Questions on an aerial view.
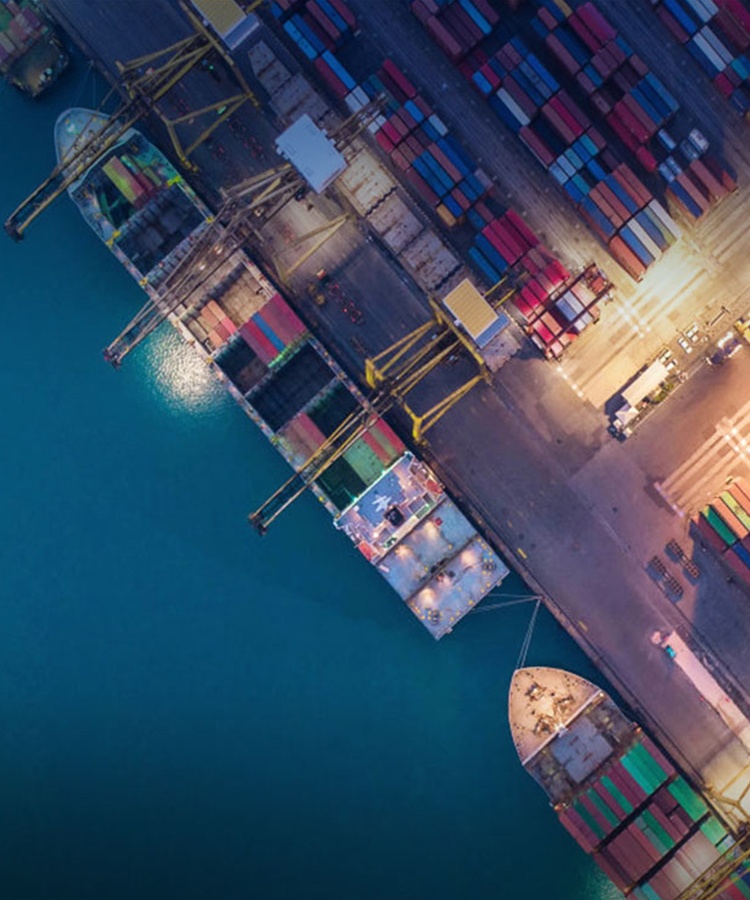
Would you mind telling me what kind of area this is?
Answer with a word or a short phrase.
port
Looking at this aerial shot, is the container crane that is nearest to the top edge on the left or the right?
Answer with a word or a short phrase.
left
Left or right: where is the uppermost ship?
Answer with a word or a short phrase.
left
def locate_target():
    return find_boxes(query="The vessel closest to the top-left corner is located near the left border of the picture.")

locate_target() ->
[0,22,77,102]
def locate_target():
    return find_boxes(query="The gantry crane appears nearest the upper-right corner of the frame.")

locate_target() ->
[515,263,615,372]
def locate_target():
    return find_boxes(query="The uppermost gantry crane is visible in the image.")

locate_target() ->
[0,0,266,234]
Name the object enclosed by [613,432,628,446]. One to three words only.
car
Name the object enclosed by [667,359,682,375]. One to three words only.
vehicle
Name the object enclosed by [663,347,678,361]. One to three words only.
car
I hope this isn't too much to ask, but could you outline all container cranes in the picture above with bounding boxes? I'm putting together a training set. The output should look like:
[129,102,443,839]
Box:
[244,258,528,535]
[515,263,615,372]
[98,93,391,375]
[0,0,266,234]
[679,761,750,900]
